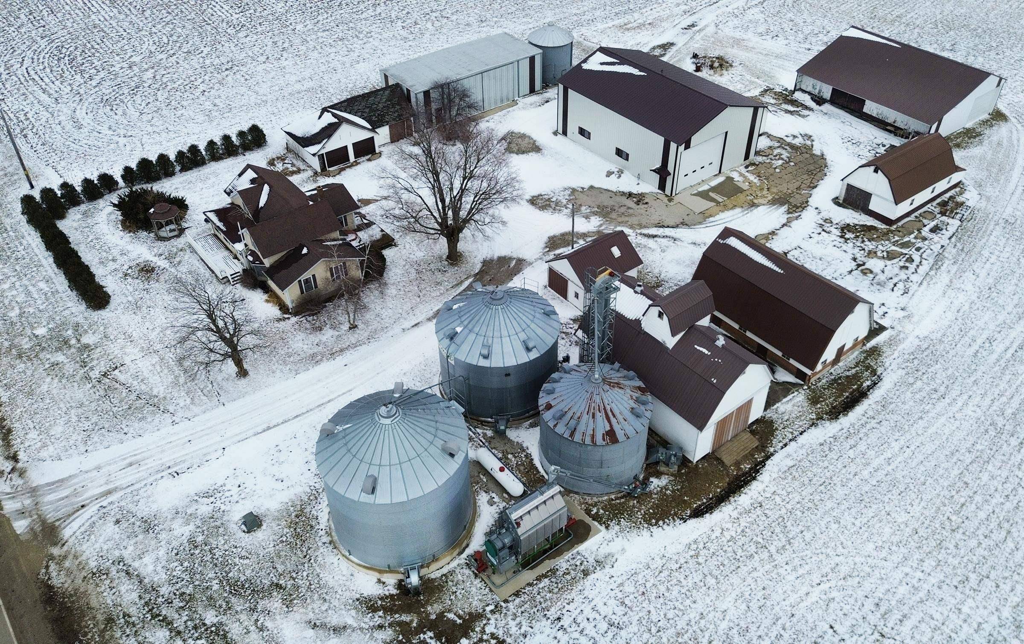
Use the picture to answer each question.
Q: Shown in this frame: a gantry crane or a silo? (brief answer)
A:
silo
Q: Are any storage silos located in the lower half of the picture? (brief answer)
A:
Yes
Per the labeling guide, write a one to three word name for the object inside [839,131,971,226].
barn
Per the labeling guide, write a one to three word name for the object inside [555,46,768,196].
shed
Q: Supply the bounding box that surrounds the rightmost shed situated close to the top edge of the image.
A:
[794,25,1007,140]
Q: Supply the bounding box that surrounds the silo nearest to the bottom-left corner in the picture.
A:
[315,384,478,575]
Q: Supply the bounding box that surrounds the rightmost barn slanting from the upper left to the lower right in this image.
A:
[690,226,889,386]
